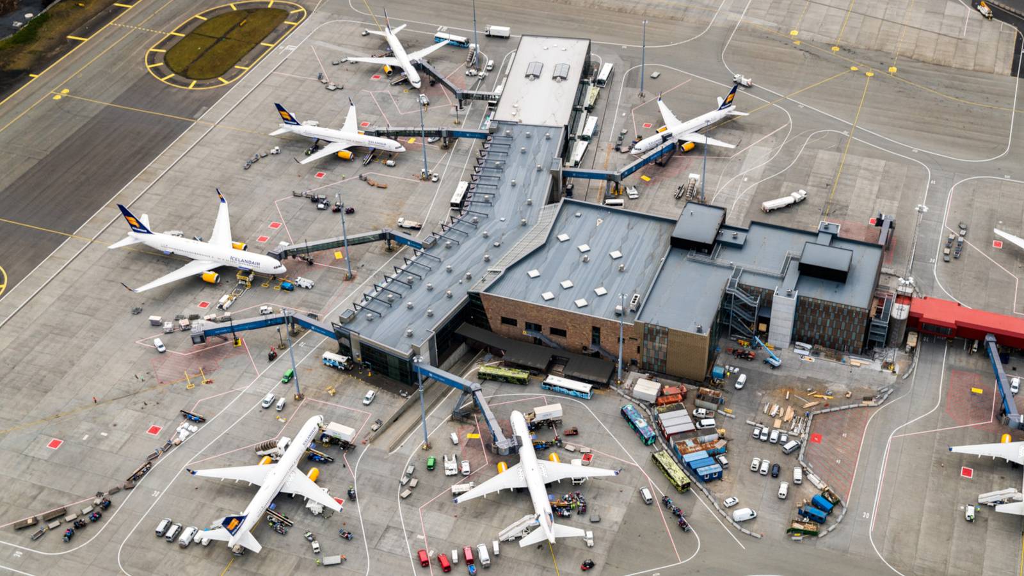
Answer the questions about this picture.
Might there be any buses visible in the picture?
Yes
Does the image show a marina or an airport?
airport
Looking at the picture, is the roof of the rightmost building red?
Yes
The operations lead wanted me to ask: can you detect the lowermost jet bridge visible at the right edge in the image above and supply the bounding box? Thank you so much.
[978,332,1024,444]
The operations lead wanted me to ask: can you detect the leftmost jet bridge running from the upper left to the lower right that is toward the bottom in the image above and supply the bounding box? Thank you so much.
[418,362,524,462]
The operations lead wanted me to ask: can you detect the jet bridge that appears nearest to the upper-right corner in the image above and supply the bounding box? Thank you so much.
[869,219,894,255]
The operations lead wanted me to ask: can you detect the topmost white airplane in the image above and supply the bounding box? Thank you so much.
[347,14,449,93]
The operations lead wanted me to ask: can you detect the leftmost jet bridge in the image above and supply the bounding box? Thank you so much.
[189,309,337,344]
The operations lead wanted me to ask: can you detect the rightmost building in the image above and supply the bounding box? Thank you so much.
[915,296,1024,354]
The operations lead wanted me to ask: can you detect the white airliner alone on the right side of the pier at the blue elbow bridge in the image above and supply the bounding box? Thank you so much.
[628,88,747,157]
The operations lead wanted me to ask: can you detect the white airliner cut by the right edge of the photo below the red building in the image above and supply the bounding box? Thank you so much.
[947,432,1024,517]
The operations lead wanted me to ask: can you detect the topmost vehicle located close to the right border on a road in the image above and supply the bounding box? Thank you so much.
[978,3,990,15]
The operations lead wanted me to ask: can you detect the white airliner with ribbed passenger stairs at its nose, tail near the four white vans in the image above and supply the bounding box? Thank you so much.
[191,416,343,549]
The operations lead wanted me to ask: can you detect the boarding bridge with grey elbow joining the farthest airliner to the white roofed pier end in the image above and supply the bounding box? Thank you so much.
[407,59,499,113]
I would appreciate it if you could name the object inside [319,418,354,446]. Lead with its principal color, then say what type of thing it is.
white truck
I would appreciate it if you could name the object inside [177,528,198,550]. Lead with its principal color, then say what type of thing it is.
white vehicle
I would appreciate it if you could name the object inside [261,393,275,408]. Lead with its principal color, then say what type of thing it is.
white car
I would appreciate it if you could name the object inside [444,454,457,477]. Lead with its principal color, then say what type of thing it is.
white vehicle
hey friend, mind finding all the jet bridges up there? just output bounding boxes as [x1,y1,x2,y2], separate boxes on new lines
[978,332,1024,444]
[869,219,894,255]
[565,136,679,194]
[364,127,487,152]
[189,309,337,344]
[269,226,422,265]
[418,362,524,462]
[407,59,499,113]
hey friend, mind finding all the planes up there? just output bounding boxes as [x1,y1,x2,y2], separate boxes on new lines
[111,194,280,294]
[347,14,449,93]
[273,99,404,163]
[628,88,747,157]
[455,410,619,544]
[947,432,1024,517]
[191,416,343,549]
